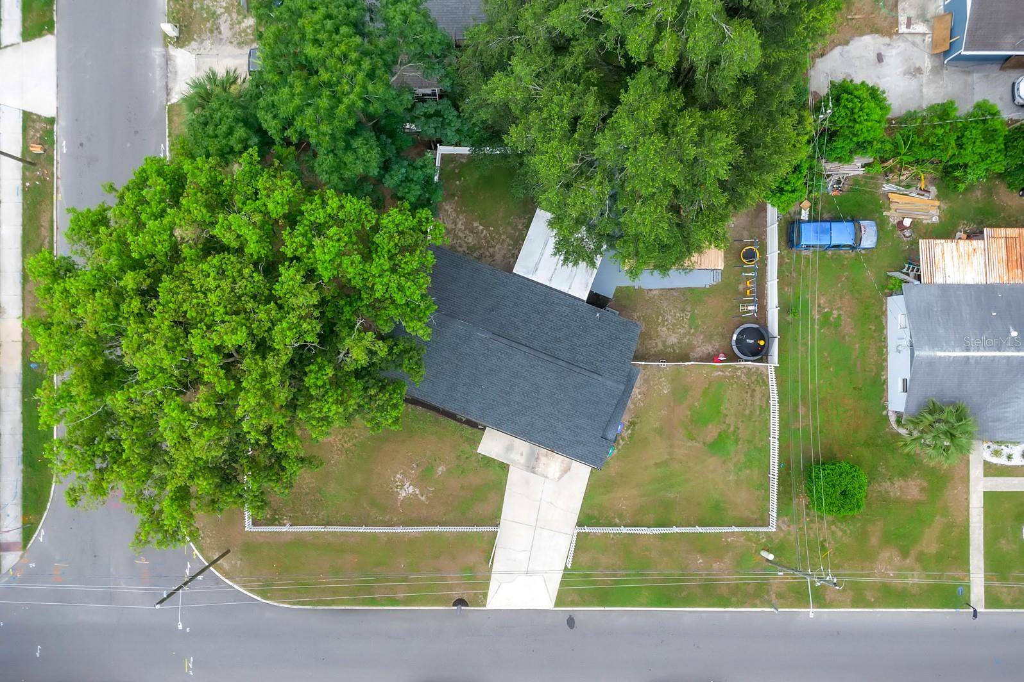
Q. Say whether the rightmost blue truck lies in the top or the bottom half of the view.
top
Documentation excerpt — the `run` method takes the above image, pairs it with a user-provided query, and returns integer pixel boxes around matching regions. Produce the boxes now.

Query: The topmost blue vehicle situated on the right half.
[786,216,877,252]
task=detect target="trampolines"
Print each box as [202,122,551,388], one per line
[729,321,774,361]
[740,246,760,265]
